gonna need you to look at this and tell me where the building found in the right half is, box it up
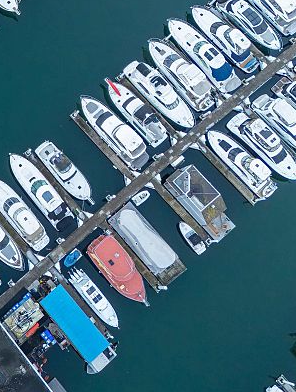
[162,163,236,243]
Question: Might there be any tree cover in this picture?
No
